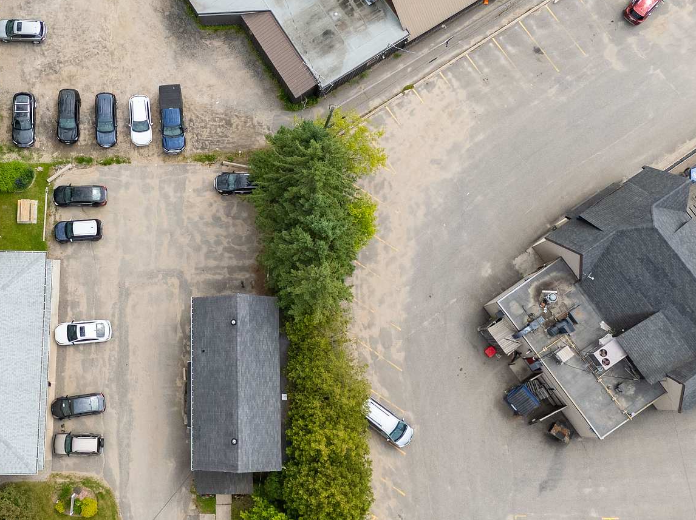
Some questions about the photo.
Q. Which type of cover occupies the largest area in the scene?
paved ground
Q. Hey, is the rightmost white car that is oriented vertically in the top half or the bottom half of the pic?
top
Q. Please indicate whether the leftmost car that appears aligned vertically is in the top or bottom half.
top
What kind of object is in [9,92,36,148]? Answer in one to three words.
car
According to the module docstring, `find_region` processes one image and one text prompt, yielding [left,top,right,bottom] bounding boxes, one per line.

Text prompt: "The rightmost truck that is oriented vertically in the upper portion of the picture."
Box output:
[158,84,187,154]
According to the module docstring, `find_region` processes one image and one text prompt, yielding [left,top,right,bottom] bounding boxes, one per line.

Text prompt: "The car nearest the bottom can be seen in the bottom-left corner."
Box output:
[51,430,106,460]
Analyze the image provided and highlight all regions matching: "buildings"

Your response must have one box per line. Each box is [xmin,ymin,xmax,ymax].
[484,166,696,439]
[0,250,52,476]
[181,0,492,102]
[187,294,286,494]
